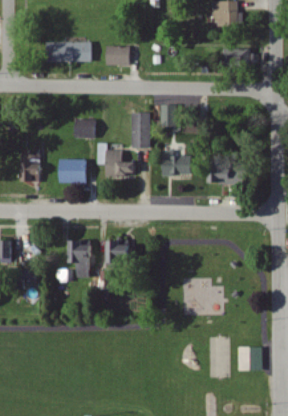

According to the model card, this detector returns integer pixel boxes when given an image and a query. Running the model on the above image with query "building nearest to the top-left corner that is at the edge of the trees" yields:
[47,41,92,62]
